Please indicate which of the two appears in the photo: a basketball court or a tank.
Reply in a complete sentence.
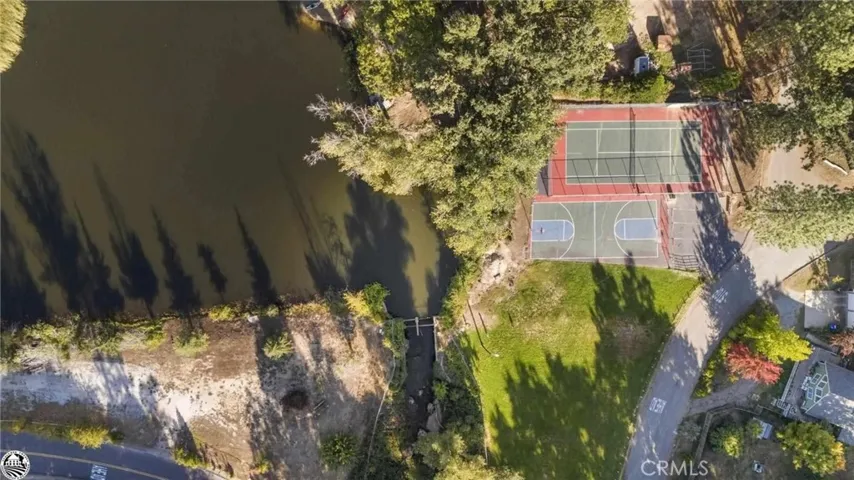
The one in the frame is a basketball court.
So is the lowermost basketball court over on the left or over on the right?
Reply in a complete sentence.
The lowermost basketball court sits on the right side.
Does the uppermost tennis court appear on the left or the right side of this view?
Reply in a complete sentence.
It is on the right.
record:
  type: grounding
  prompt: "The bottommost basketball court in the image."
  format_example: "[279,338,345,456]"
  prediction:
[526,194,717,272]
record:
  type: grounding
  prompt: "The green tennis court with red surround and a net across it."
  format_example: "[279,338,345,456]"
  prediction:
[551,108,717,194]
